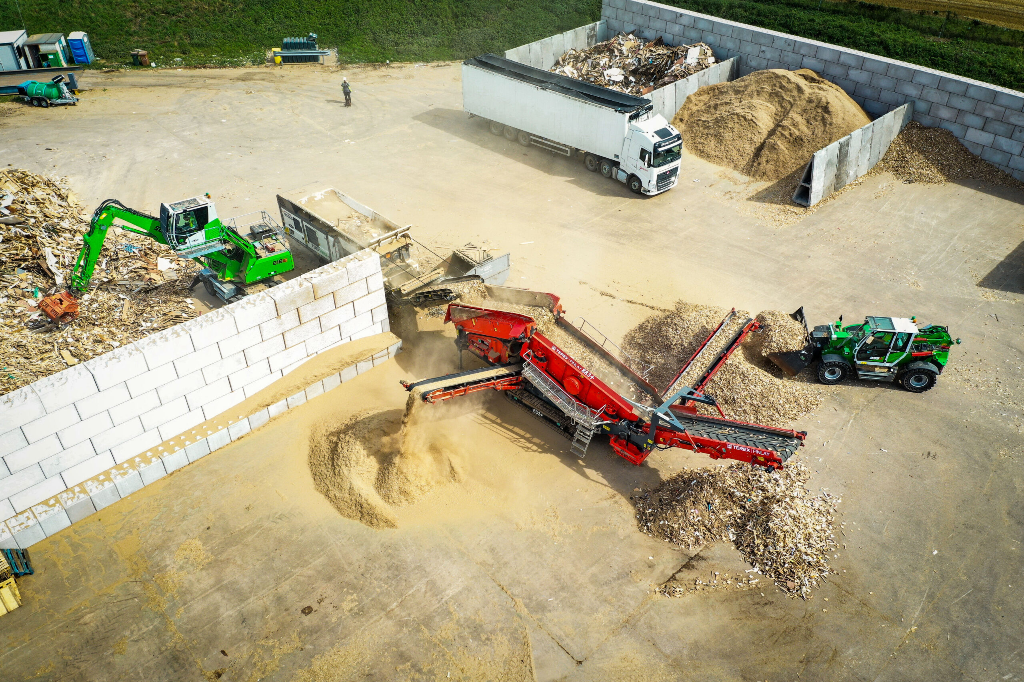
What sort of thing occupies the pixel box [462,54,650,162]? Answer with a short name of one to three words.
trailer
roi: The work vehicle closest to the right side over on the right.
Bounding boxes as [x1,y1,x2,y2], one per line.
[767,306,965,391]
